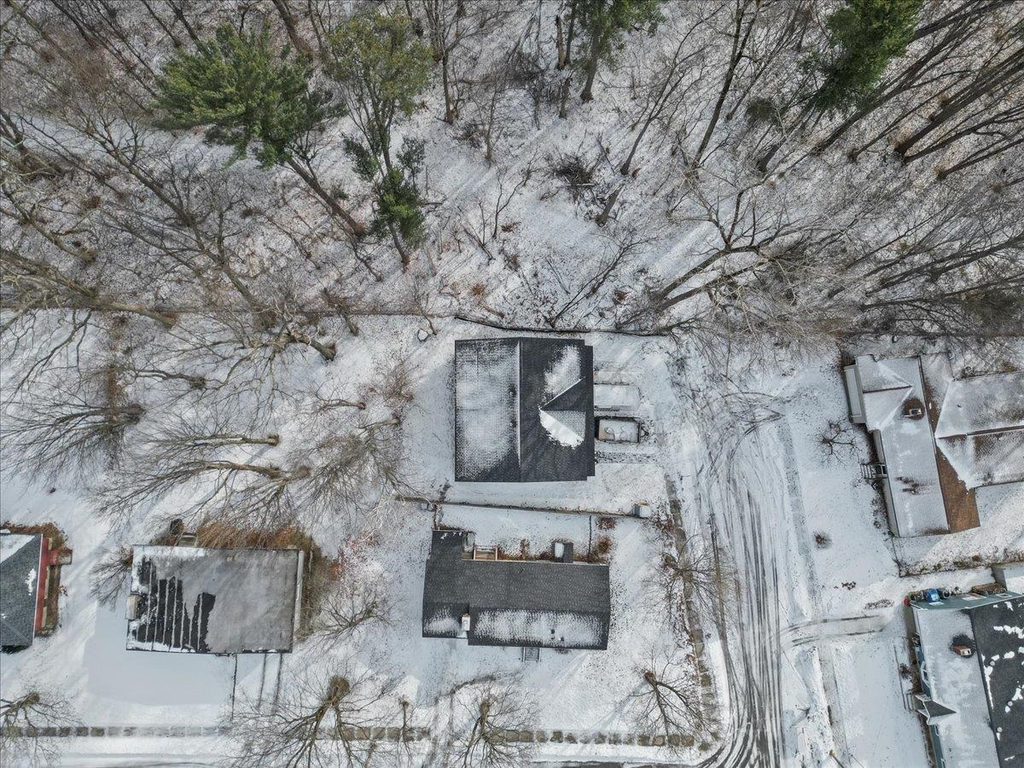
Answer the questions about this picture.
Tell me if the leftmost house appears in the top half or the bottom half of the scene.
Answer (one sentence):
The leftmost house sits in the bottom half of the picture.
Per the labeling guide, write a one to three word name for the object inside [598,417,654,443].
trailer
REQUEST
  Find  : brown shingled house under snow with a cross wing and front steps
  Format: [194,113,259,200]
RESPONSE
[832,352,1024,537]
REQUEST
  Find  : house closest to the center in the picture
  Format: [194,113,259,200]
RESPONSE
[455,338,594,482]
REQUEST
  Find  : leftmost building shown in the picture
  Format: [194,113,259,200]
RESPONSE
[0,531,81,647]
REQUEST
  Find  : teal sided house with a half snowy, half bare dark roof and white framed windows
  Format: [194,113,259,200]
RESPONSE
[903,588,1024,768]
